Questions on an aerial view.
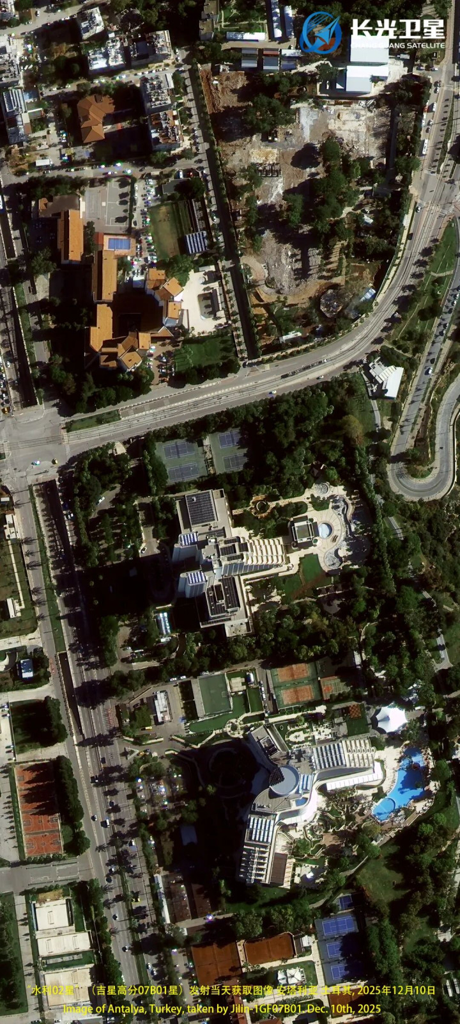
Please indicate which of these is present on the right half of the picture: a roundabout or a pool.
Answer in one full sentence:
The one visible on the right half of the picture is a pool.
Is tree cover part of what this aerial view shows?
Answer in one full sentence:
Yes, there is tree cover in the image.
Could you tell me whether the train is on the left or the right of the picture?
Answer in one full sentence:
The train sits on the right side.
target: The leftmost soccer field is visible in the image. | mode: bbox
[153,202,181,262]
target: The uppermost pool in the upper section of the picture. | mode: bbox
[197,291,215,318]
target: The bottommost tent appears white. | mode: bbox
[278,968,304,984]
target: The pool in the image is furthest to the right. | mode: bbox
[371,745,429,822]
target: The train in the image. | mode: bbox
[281,357,328,377]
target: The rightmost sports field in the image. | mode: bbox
[192,673,233,718]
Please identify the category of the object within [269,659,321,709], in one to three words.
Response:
tennis court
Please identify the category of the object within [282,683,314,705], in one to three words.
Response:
tennis court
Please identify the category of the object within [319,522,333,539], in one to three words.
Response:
swimming pool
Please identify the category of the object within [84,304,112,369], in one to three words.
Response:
building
